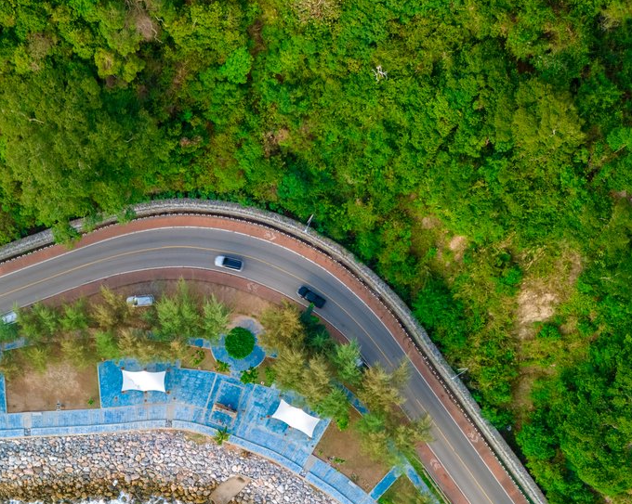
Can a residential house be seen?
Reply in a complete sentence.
No, I can't see a single residential house in this photo.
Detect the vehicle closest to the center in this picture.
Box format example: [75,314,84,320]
[296,285,327,310]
